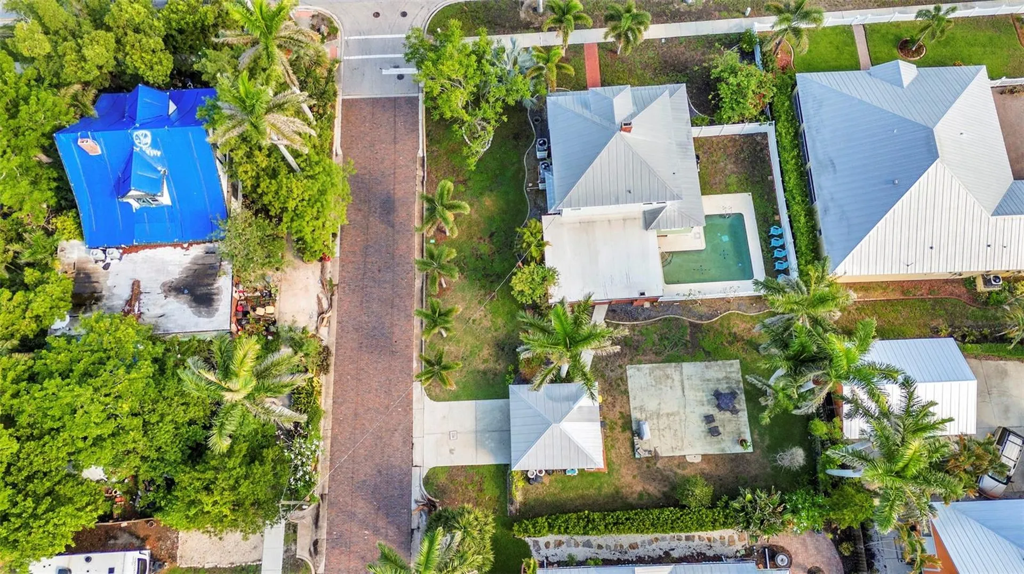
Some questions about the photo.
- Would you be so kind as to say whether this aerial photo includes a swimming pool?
Yes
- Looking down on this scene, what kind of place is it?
residential area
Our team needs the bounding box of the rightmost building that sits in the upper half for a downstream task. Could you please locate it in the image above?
[795,59,1024,283]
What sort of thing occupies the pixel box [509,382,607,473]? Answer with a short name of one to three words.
building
